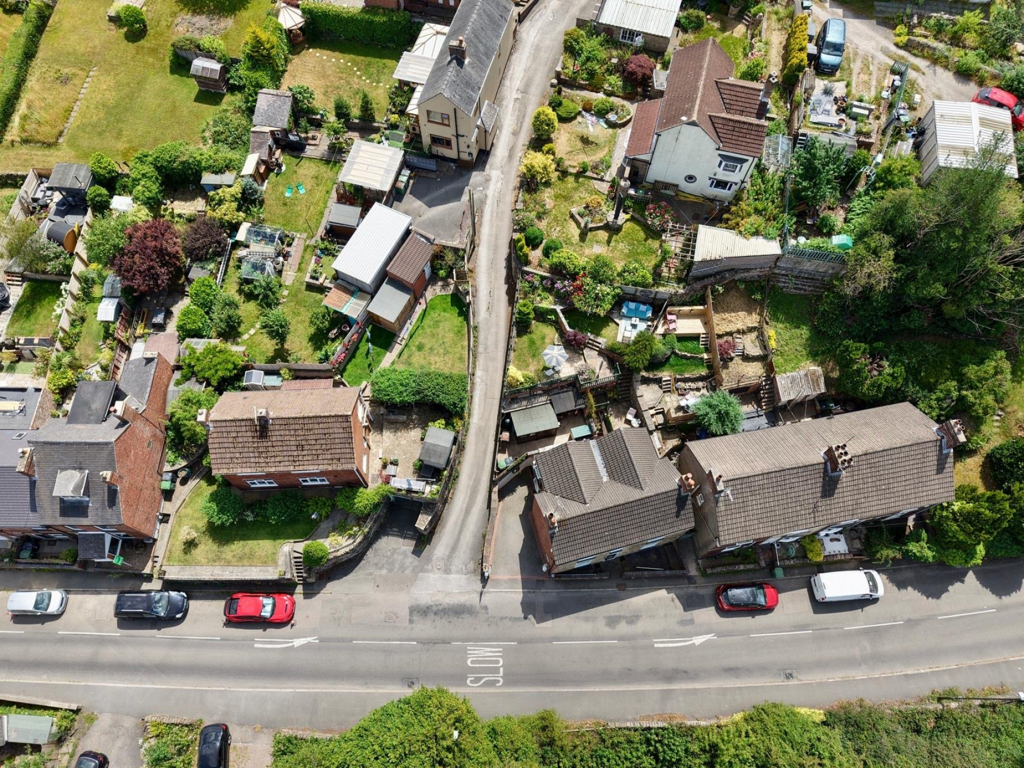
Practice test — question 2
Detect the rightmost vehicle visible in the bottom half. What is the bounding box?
[808,568,885,605]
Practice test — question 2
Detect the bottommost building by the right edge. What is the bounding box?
[680,403,974,556]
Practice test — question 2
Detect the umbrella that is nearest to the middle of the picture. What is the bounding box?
[542,343,570,371]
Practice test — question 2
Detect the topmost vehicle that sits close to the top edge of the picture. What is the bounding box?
[818,21,851,76]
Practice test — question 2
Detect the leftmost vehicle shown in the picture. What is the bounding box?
[1,586,74,621]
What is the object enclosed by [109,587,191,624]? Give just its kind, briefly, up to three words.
car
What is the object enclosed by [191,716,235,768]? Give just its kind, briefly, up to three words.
car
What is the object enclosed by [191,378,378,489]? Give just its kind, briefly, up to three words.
house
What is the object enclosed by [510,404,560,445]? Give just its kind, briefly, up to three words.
shed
